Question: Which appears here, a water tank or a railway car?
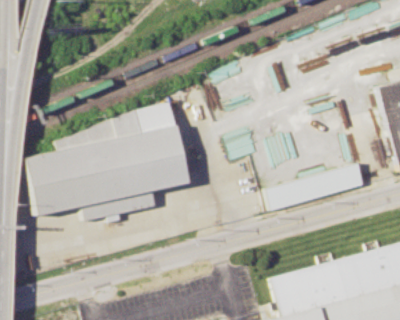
railway car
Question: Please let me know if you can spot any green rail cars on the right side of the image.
Yes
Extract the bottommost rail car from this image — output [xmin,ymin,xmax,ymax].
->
[40,95,75,114]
